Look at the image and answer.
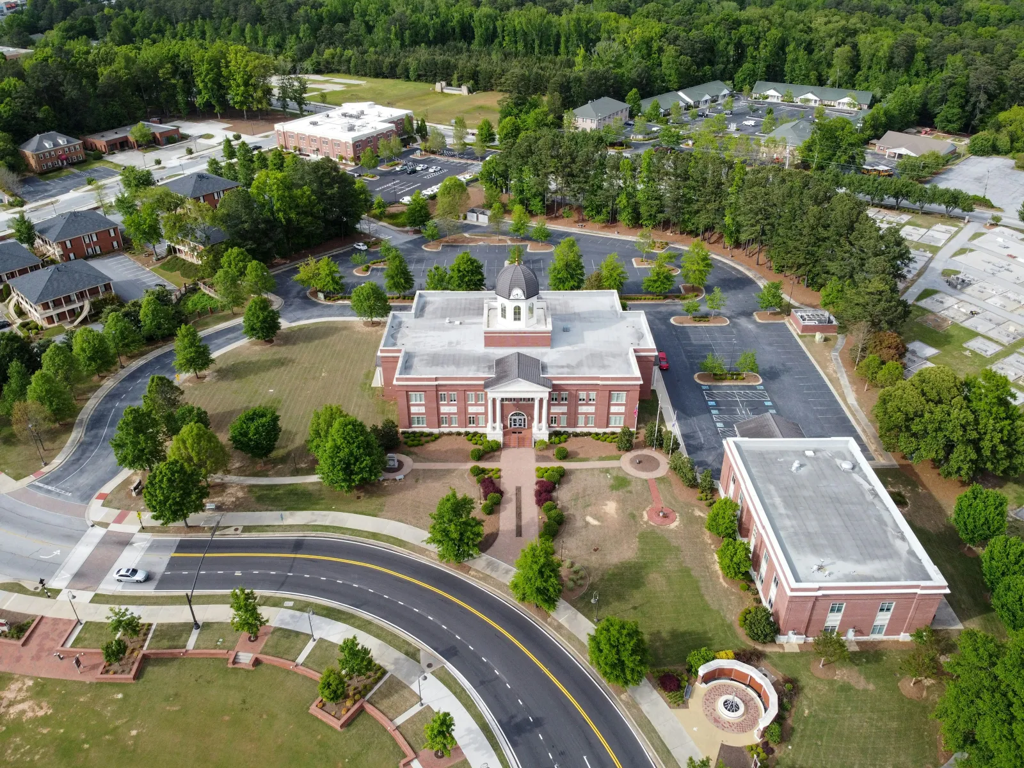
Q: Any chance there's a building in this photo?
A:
Yes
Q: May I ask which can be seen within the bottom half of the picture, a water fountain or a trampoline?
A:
water fountain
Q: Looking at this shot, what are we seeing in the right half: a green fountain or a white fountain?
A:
white fountain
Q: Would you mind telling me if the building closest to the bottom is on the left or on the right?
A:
right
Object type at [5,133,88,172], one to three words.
house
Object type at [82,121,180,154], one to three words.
building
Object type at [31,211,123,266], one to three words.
building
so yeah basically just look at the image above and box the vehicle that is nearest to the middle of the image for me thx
[657,355,671,369]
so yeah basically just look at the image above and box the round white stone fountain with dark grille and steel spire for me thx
[717,691,747,718]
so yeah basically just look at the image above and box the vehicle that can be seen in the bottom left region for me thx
[108,566,150,583]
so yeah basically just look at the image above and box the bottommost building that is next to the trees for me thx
[721,421,951,647]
